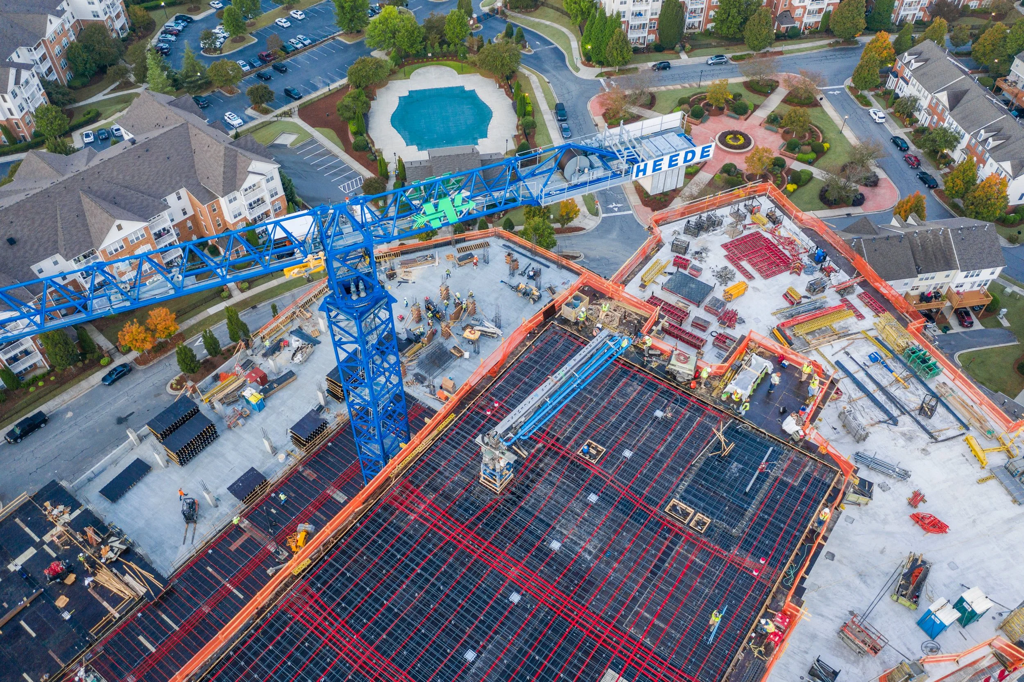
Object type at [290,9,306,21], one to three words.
vehicle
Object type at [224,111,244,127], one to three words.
car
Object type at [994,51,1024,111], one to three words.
house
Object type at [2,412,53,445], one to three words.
truck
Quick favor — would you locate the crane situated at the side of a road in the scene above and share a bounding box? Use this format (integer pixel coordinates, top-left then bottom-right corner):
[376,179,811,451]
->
[0,106,716,484]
